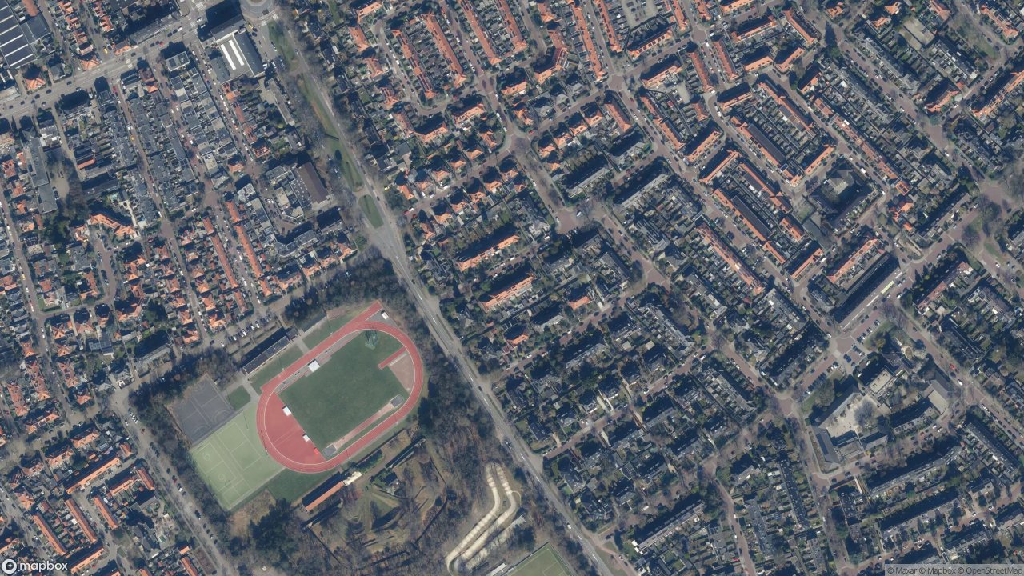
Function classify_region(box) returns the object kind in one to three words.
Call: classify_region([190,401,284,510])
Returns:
sports field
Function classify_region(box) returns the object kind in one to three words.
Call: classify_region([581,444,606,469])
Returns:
house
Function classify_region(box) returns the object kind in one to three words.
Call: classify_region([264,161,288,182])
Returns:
building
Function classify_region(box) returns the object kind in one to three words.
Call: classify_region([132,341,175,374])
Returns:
building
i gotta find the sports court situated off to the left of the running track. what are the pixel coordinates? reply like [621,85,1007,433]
[171,375,235,446]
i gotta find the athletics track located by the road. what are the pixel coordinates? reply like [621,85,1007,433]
[256,300,423,473]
